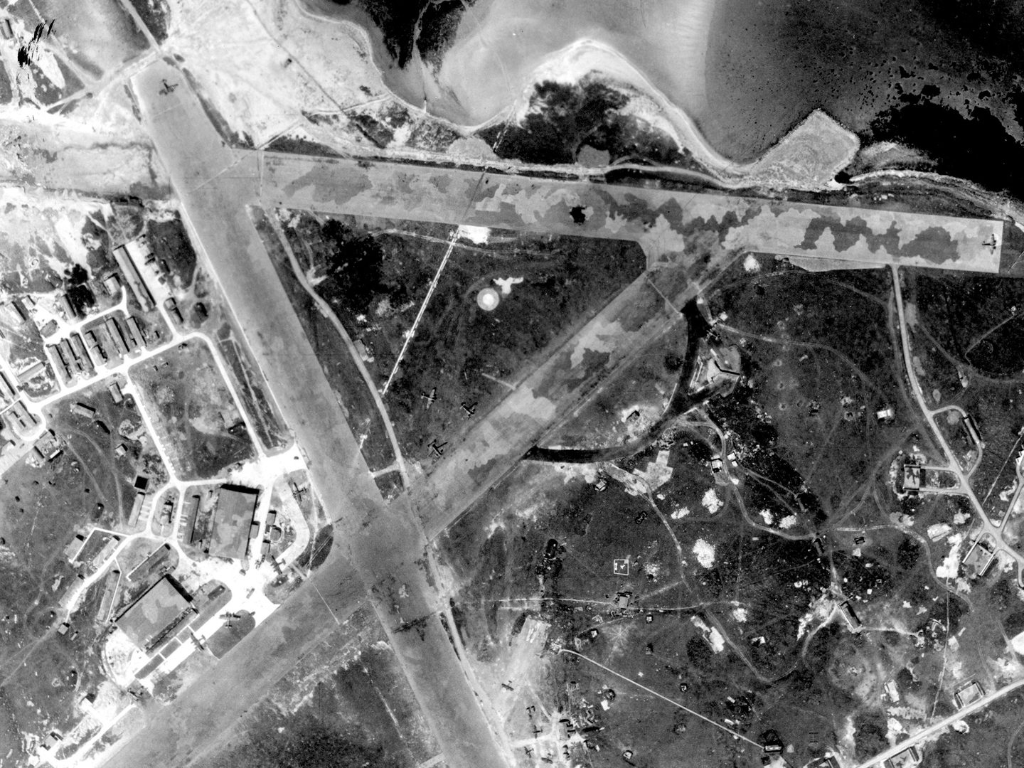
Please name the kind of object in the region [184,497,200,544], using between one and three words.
building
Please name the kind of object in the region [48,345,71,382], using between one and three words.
shed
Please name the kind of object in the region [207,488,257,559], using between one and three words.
hangar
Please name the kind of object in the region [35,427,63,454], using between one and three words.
building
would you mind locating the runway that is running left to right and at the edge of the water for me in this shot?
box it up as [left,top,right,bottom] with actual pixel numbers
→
[230,146,1003,274]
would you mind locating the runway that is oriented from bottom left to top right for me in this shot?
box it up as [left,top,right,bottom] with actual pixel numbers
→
[100,254,739,768]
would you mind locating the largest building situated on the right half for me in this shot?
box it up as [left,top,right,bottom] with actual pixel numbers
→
[904,459,925,495]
